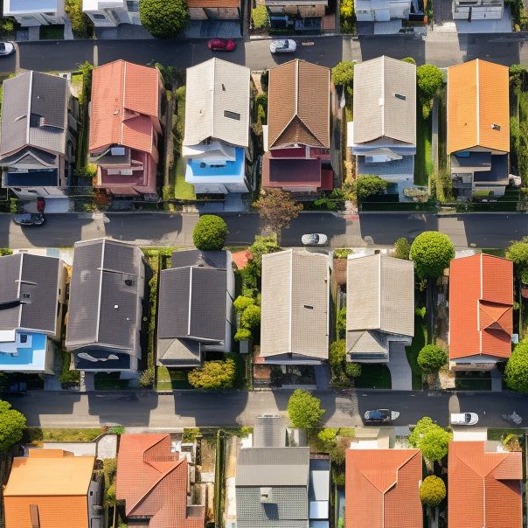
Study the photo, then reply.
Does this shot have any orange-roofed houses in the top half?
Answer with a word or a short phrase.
Yes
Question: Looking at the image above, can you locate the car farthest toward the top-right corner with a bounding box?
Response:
[270,38,295,53]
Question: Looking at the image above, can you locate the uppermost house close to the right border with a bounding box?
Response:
[452,0,503,26]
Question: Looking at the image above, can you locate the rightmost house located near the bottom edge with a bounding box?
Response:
[448,441,522,528]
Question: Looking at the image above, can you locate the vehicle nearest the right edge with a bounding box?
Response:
[450,411,476,427]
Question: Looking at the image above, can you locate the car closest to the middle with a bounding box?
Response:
[301,233,327,246]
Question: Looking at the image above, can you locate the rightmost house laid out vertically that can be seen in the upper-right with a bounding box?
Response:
[448,63,508,203]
